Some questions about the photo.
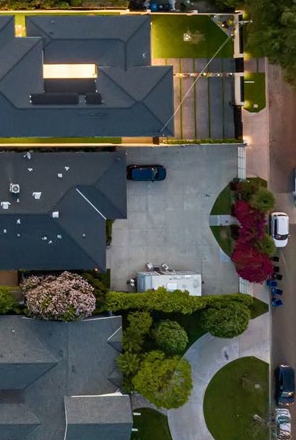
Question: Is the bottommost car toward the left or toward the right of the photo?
right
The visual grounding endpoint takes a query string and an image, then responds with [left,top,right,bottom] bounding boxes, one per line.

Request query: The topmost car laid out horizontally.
[126,162,166,182]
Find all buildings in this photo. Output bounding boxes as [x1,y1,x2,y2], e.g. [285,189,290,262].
[0,151,127,271]
[0,311,141,440]
[0,14,174,140]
